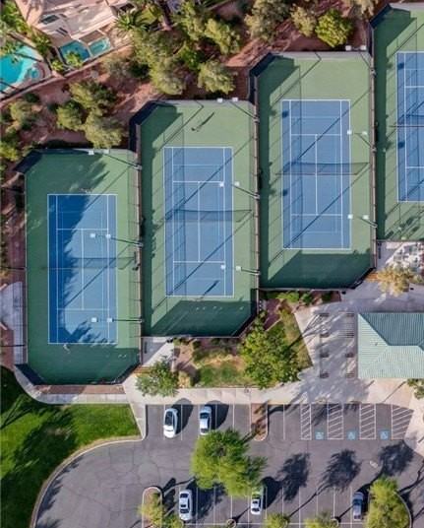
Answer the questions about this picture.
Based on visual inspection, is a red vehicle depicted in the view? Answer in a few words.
No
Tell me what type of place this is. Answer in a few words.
sports ground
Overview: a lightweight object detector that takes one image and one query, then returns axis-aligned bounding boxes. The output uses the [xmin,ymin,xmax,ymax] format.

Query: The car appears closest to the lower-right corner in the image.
[350,489,364,521]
